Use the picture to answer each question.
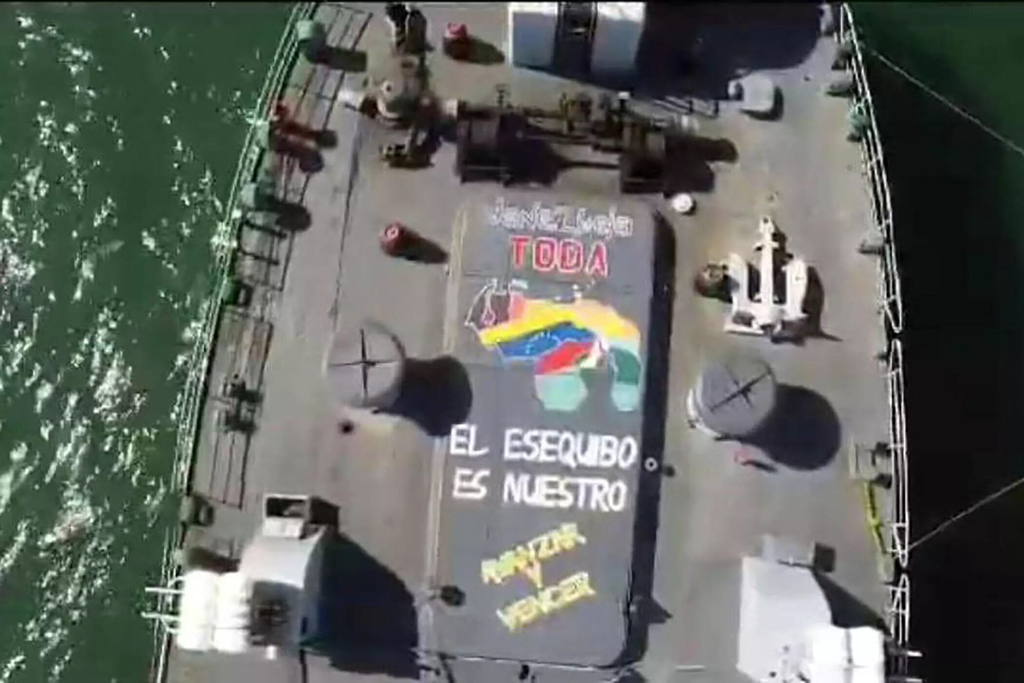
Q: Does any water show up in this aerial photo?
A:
Yes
